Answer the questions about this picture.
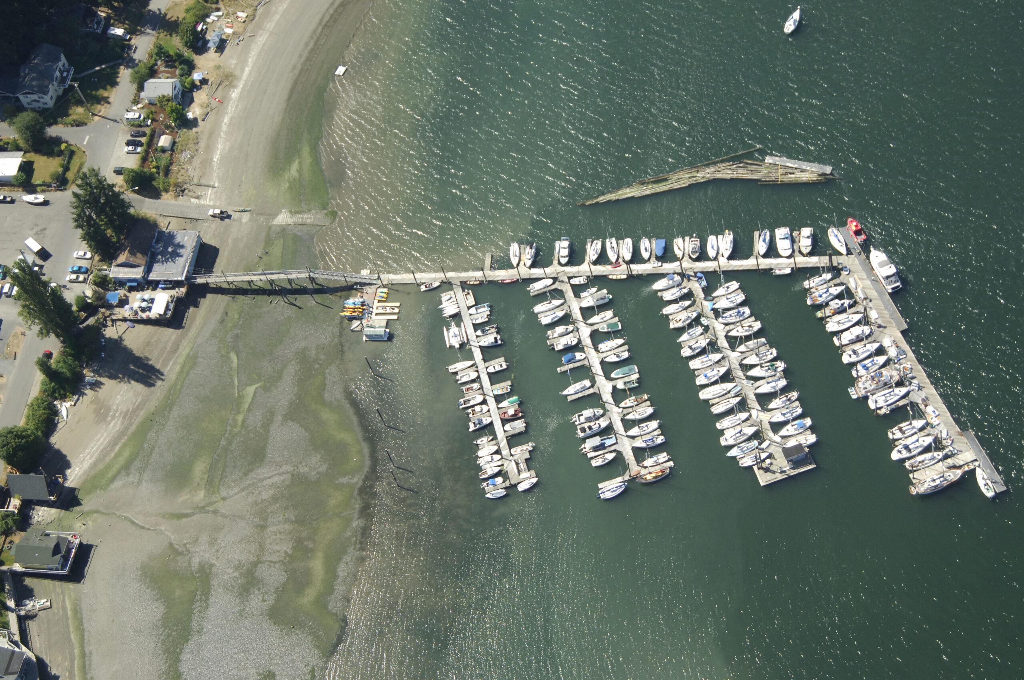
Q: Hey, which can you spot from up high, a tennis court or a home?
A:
home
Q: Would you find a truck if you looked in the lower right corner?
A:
No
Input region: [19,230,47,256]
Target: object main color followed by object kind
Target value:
white truck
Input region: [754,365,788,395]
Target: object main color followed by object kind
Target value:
white boat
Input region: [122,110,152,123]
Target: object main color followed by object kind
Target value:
white vehicle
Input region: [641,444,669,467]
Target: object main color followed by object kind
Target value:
white boat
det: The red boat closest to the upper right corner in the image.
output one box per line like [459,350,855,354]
[848,215,868,243]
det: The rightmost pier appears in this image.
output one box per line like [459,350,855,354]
[810,255,976,484]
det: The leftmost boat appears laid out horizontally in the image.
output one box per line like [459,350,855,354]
[19,194,48,208]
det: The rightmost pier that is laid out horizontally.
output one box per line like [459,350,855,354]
[380,231,817,285]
